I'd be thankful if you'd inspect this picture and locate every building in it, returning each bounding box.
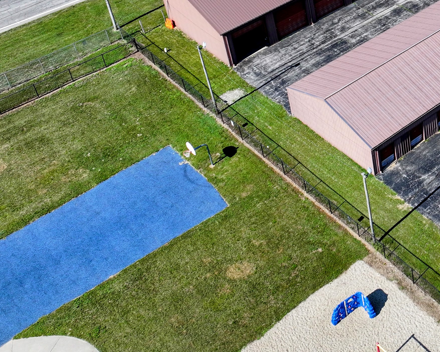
[163,0,356,68]
[285,1,440,175]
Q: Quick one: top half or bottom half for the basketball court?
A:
bottom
